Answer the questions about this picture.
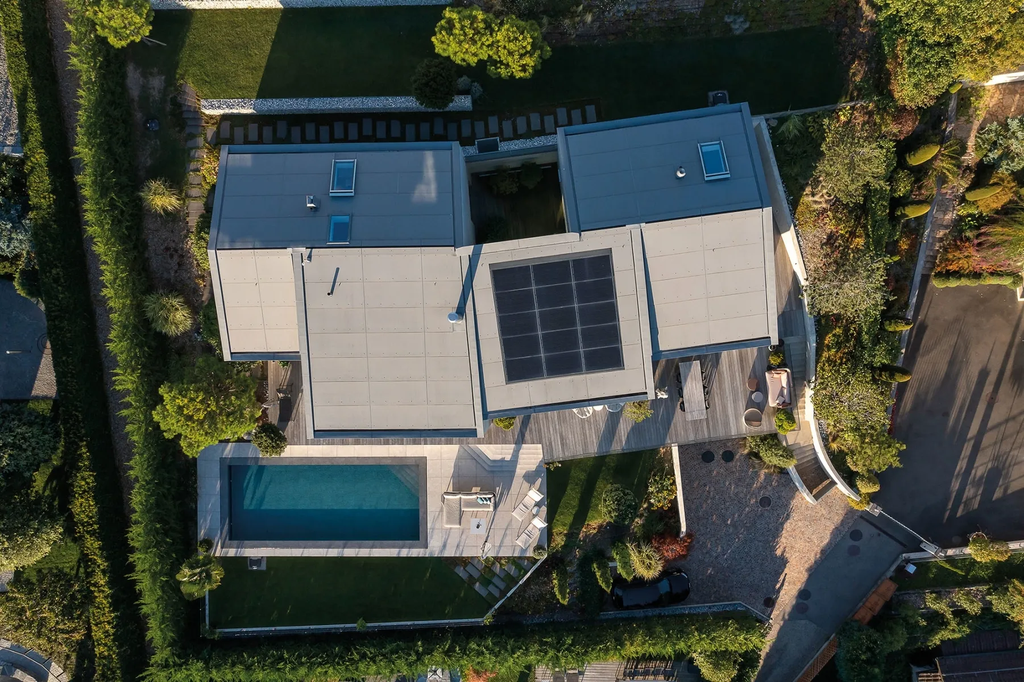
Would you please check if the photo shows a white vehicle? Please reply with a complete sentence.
No, I find no white vehicle anywhere in the image.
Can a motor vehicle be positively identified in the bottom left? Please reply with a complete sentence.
No, in the bottom left there is no motor vehicle.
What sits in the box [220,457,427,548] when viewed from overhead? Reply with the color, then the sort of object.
blue swimming pool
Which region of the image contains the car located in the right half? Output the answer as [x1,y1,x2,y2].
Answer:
[615,574,692,615]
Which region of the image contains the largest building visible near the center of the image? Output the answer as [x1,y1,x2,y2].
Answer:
[207,103,779,439]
